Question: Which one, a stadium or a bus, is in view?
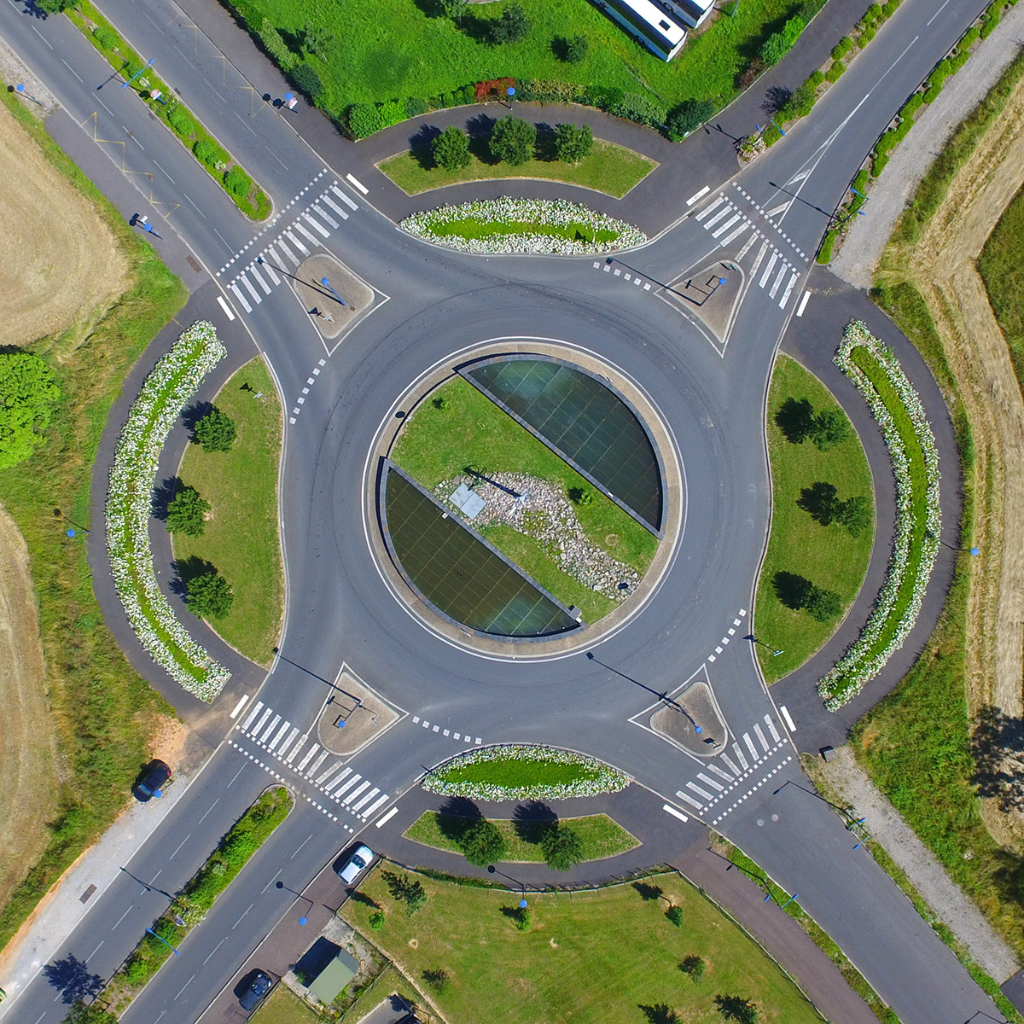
bus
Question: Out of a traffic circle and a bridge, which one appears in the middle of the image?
traffic circle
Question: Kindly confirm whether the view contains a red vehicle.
No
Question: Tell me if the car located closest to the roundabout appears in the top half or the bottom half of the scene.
bottom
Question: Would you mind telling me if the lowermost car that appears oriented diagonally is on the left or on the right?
left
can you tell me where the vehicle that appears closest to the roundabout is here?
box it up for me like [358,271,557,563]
[334,845,375,889]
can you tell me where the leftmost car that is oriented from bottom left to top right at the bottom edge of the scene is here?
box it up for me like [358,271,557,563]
[235,967,274,1014]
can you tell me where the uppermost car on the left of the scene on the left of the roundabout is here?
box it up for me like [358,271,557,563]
[134,757,172,803]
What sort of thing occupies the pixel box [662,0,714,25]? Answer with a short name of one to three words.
bus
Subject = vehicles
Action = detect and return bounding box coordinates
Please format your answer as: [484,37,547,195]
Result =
[334,845,375,889]
[0,990,14,1019]
[235,967,274,1014]
[589,0,688,59]
[662,0,714,25]
[134,757,172,803]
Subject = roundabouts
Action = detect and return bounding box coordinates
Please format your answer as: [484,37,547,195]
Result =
[266,216,785,781]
